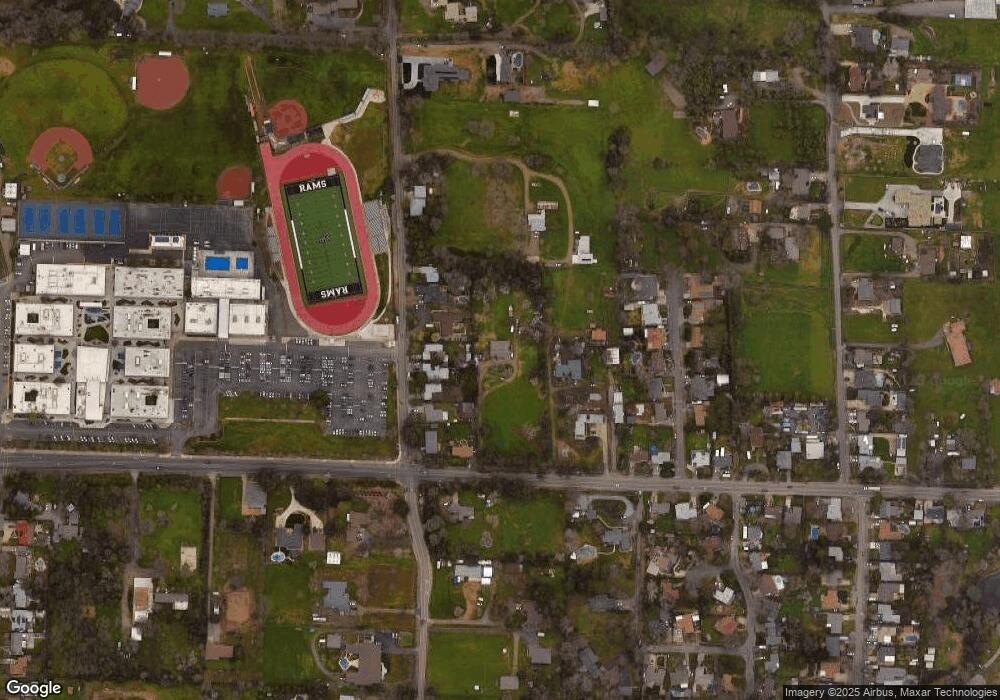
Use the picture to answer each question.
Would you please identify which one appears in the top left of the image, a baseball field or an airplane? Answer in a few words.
baseball field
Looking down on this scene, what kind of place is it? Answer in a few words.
residential area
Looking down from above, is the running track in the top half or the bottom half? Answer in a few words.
top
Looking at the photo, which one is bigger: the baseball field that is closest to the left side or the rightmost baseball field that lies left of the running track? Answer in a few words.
the baseball field that is closest to the left side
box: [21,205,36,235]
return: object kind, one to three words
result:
tennis court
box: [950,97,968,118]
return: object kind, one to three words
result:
swimming pool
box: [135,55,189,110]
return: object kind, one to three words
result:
baseball field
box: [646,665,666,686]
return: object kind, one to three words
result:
house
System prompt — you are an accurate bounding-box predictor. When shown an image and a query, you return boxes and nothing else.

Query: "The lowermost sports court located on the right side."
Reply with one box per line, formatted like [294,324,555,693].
[913,144,944,174]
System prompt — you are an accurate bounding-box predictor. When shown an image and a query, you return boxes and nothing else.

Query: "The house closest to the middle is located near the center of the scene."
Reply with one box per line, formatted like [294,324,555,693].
[490,341,511,358]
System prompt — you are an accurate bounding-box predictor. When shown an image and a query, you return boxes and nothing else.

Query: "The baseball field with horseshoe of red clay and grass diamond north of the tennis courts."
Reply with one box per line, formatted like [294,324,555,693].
[28,126,95,190]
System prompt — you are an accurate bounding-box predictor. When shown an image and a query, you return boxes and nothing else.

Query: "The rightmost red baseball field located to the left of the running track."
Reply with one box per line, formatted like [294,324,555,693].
[216,164,253,205]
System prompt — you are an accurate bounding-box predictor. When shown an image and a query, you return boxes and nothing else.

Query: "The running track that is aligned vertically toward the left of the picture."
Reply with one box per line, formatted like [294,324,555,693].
[262,143,380,336]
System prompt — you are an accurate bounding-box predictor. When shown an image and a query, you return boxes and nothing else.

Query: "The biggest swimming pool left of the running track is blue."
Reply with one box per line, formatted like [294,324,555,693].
[205,257,230,271]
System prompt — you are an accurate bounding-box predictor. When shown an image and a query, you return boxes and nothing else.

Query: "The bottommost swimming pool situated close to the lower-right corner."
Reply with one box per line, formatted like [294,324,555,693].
[901,632,920,644]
